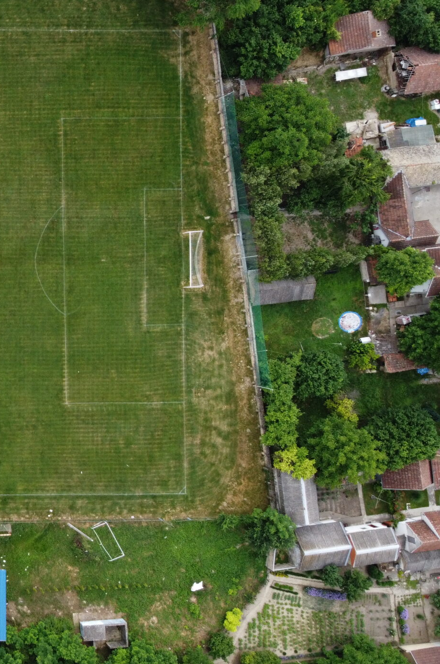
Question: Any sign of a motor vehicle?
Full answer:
No, I can see no motor vehicle in this picture.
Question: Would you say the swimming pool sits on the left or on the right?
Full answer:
It is on the right.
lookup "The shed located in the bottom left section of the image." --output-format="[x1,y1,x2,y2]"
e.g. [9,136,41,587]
[75,615,128,647]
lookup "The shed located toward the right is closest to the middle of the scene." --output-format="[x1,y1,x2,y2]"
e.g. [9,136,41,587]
[249,276,316,306]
